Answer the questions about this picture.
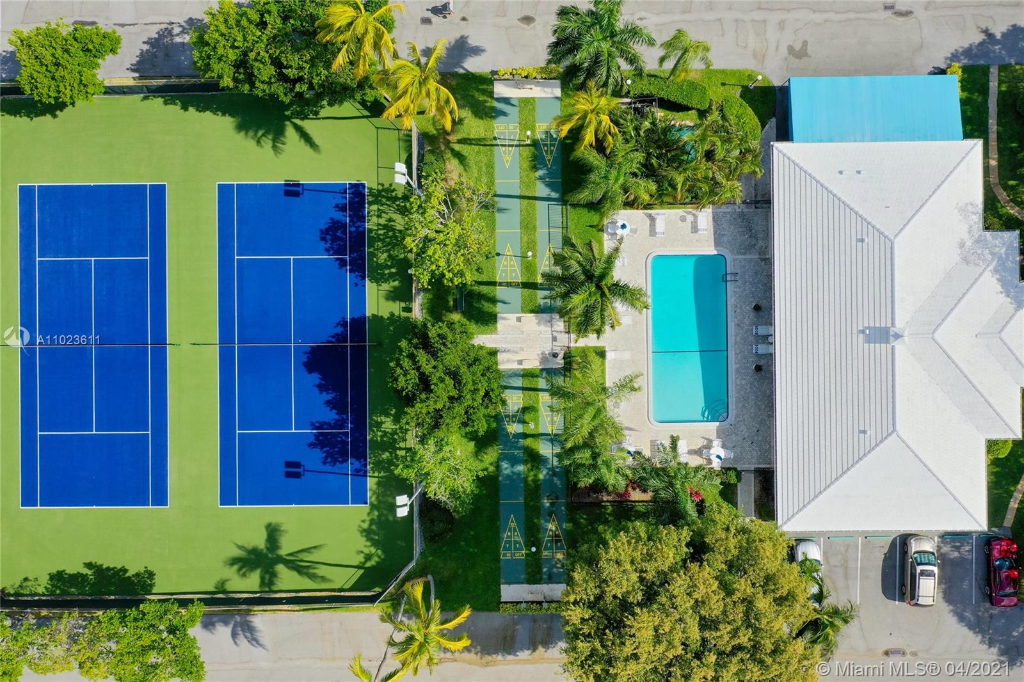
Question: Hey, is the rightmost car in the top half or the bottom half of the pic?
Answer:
bottom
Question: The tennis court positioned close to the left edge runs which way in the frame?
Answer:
from top to bottom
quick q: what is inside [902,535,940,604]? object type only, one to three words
car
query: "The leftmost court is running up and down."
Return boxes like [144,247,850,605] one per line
[17,183,170,508]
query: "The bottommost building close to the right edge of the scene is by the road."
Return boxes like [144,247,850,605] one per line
[769,138,1024,534]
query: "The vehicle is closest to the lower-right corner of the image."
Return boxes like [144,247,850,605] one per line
[984,536,1022,606]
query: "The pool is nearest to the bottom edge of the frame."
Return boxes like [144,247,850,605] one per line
[644,247,736,430]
